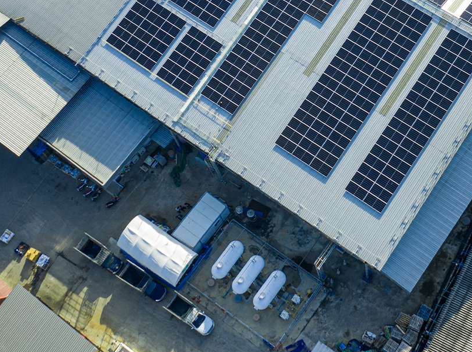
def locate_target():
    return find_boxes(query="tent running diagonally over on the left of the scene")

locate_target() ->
[115,214,207,295]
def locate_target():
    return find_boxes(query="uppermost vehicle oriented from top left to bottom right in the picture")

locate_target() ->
[71,239,125,283]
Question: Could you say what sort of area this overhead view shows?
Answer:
industrial area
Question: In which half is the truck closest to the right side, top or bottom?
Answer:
bottom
